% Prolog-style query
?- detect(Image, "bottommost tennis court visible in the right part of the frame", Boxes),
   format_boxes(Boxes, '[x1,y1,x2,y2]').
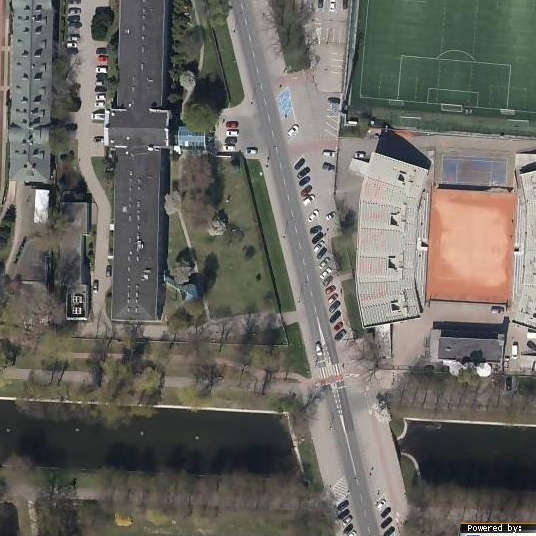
[427,189,516,305]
